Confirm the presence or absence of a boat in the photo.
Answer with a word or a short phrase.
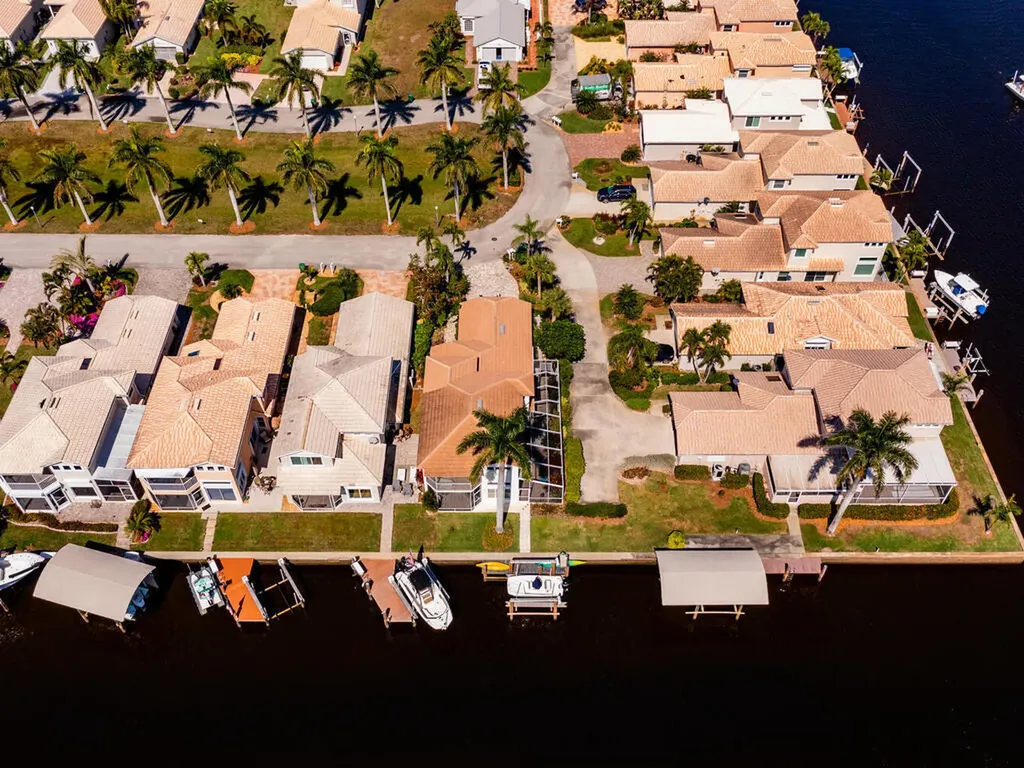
Yes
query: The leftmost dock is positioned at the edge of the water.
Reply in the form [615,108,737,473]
[218,559,270,632]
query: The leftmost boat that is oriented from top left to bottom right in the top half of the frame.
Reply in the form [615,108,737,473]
[934,265,993,324]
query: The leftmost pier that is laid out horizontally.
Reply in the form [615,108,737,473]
[480,563,581,590]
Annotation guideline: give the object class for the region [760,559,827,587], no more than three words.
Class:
pier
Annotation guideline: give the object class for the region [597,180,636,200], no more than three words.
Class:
car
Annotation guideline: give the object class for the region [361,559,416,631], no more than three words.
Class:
pier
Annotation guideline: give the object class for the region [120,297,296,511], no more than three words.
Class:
house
